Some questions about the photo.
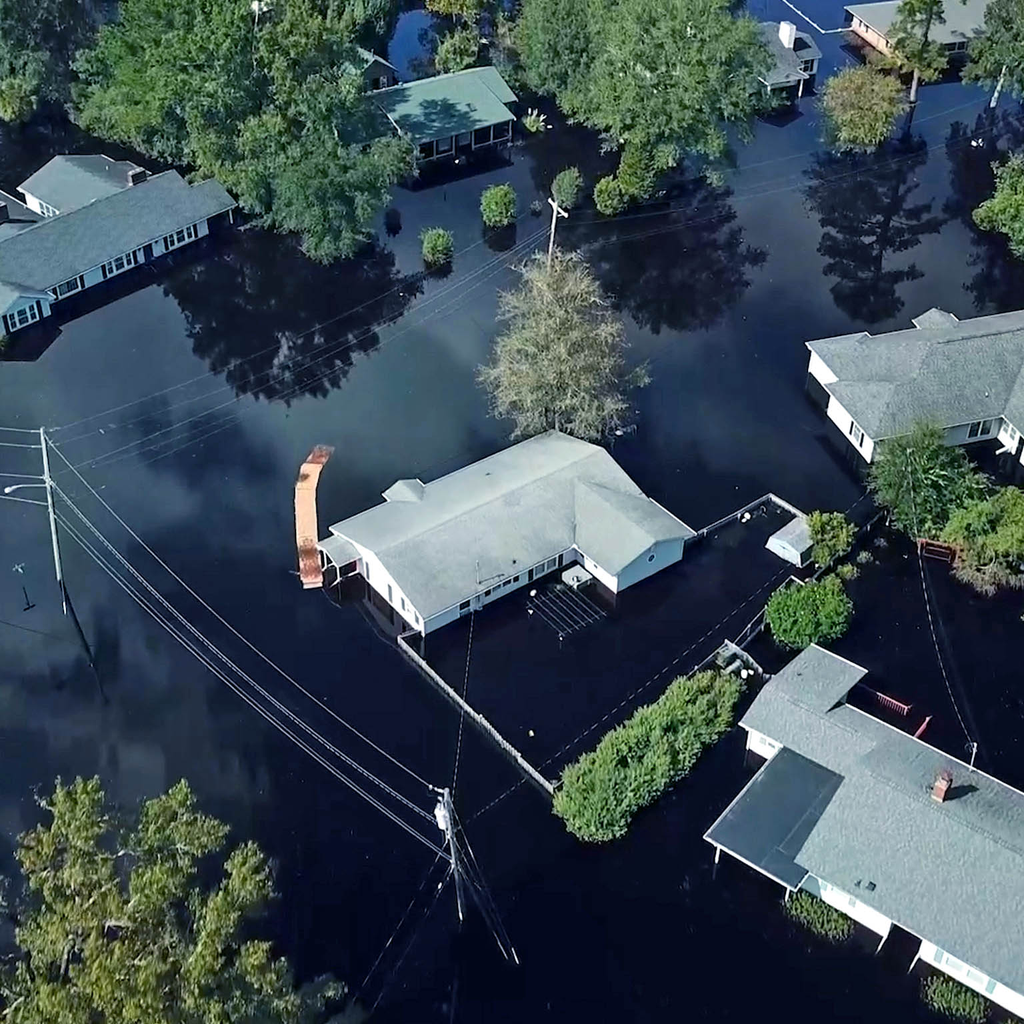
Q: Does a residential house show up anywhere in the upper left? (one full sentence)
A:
Yes, a residential house shows up in the upper left.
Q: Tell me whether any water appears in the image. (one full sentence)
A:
Yes, some water is visible.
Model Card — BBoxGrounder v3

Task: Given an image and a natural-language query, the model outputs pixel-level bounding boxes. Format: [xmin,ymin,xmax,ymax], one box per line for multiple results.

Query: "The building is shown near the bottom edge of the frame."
[703,643,1024,1020]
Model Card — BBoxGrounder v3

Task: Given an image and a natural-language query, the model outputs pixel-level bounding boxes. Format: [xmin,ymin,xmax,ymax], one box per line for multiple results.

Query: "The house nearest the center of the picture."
[313,428,697,635]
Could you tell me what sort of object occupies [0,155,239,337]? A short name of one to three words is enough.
house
